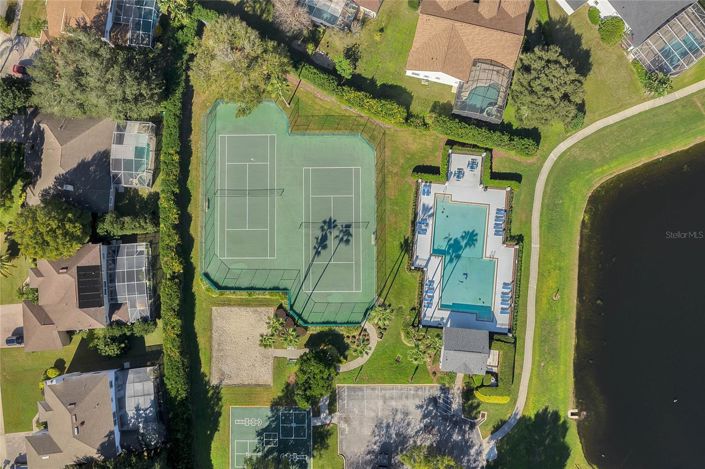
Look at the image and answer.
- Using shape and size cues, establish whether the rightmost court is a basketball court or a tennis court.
tennis court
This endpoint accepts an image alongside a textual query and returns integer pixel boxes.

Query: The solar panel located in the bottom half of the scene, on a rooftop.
[78,265,104,308]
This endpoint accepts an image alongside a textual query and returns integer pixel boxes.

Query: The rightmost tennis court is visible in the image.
[288,134,375,321]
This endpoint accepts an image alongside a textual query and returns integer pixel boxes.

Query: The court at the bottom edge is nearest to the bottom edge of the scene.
[230,406,312,469]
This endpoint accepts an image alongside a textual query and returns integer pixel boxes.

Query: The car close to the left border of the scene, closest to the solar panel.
[6,335,24,348]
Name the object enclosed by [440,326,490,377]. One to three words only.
building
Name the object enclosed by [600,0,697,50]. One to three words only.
house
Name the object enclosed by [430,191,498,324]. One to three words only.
swimming pool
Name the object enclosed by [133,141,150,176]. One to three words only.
swimming pool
